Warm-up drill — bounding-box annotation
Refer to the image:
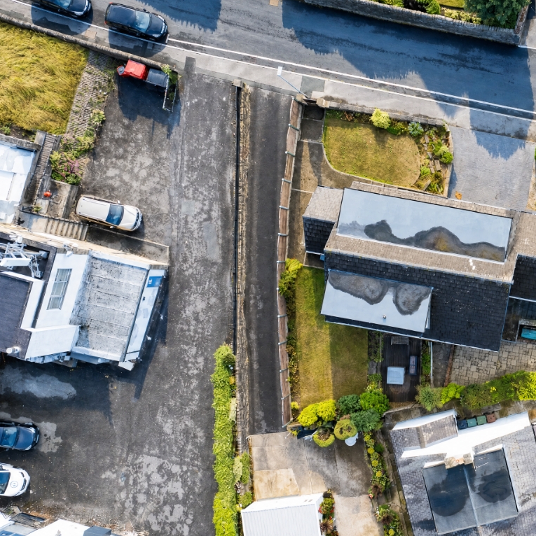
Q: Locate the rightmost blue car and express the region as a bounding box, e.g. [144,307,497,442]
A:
[101,1,173,45]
